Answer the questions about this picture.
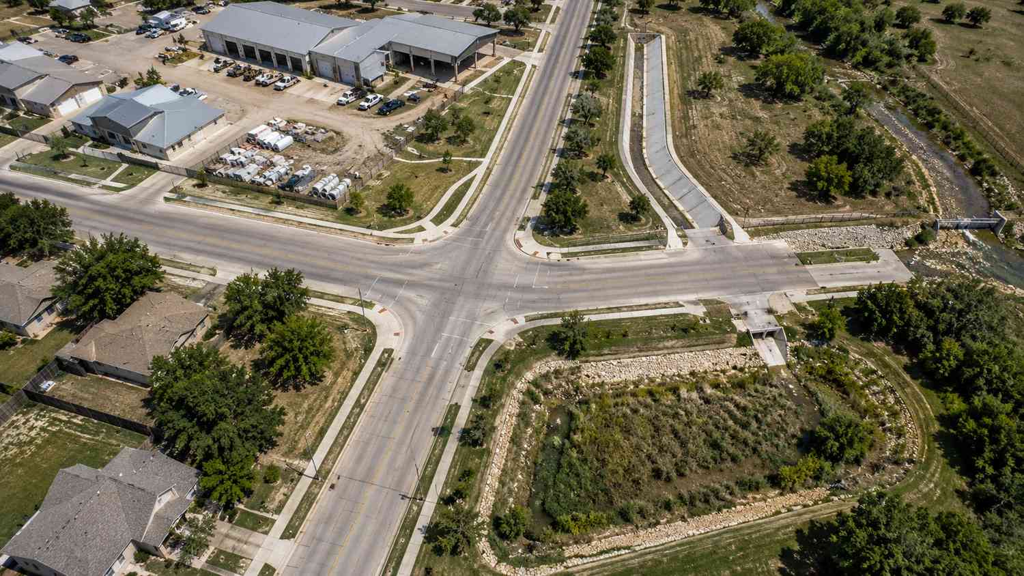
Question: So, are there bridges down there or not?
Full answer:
Yes, a bridge appears in the view.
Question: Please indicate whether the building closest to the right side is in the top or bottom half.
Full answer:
Seen from above, the building closest to the right side lies in the top half of the view.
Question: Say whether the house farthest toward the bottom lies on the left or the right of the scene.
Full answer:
It is on the left.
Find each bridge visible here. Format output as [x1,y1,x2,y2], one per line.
[932,206,1008,240]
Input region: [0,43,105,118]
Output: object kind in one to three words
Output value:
building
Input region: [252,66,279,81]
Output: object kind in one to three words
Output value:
vehicle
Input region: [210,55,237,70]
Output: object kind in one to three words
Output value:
vehicle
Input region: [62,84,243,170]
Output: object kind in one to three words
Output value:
building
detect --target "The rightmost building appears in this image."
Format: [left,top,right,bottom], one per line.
[199,4,506,89]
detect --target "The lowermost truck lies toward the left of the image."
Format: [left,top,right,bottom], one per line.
[282,164,315,186]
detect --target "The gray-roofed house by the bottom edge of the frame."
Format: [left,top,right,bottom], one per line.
[0,446,205,576]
